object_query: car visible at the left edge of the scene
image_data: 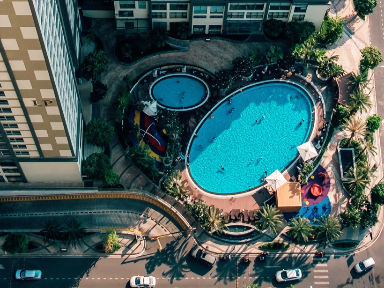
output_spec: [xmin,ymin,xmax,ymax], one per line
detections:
[16,267,42,281]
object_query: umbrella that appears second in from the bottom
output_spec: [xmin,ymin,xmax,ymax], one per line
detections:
[297,142,318,162]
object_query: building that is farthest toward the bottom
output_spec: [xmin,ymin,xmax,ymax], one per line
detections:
[274,182,302,211]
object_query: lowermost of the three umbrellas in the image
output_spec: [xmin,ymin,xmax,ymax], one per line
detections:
[264,169,287,191]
